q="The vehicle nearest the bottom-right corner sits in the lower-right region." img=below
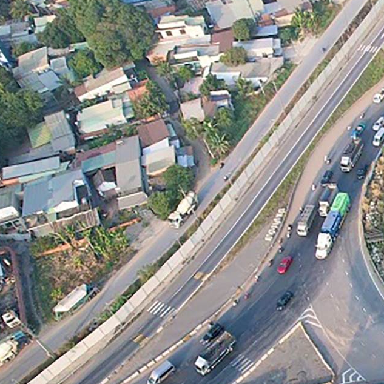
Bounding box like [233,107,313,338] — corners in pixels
[276,293,295,312]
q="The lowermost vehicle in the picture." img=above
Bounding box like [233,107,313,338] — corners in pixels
[146,360,177,384]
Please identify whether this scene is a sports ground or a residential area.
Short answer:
residential area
